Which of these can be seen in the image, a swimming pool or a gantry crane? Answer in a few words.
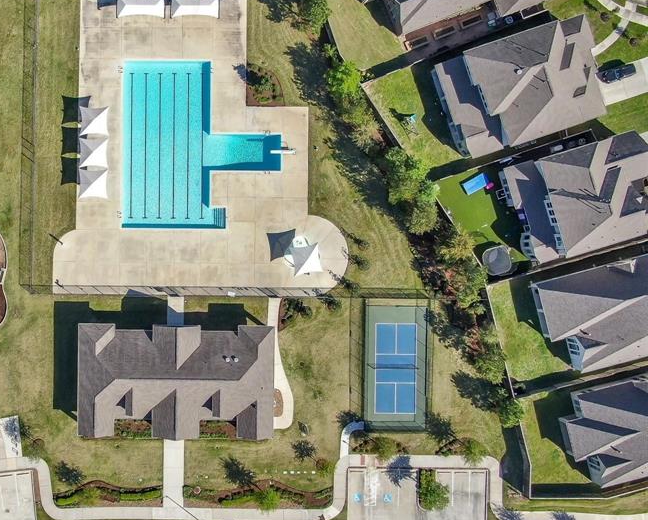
swimming pool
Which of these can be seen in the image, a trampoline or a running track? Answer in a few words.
trampoline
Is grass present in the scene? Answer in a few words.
Yes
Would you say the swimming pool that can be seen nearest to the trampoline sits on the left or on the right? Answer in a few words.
right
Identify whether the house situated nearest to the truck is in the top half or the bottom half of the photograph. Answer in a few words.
top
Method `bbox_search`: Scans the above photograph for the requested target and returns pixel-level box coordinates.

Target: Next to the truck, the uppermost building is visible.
[429,15,607,159]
